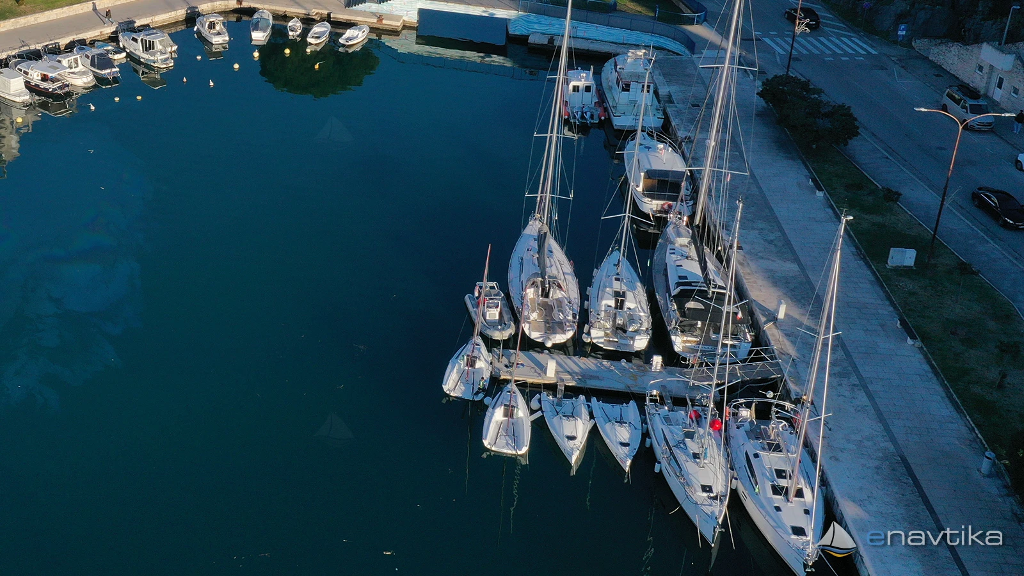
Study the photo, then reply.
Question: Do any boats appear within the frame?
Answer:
Yes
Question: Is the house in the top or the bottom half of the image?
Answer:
top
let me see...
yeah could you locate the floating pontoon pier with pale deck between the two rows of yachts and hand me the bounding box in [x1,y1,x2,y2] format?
[493,351,729,406]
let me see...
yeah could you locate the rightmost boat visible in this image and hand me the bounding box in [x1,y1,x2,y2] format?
[727,191,854,576]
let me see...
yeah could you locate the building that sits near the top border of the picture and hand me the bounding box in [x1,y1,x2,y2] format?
[948,21,1024,115]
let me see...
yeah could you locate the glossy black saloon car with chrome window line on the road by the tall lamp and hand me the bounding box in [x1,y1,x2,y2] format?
[973,186,1024,229]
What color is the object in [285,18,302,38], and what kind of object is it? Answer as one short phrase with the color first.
white boat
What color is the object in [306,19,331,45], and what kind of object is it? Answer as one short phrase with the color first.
white boat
